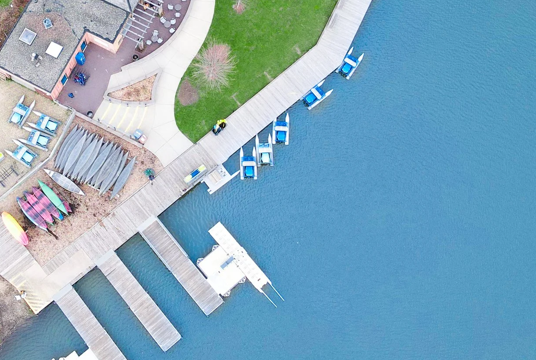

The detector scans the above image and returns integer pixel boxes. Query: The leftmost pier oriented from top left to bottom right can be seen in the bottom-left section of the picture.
[53,284,127,360]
